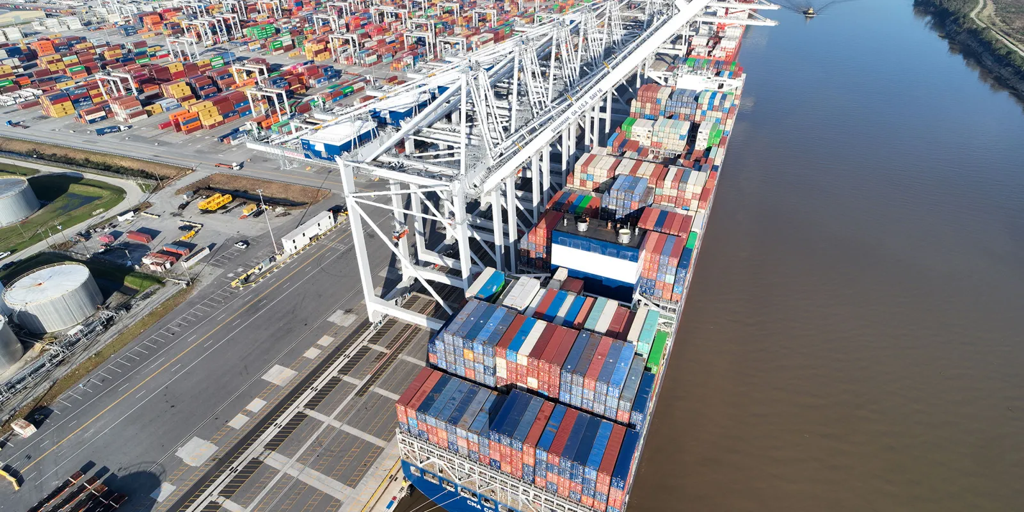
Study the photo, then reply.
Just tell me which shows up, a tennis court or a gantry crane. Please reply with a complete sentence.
The image shows a gantry crane.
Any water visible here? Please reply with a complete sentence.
Yes, water shows up in the scene.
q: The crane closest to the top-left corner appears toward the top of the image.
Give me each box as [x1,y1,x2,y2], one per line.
[94,70,146,106]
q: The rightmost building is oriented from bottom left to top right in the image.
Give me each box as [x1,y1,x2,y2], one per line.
[279,211,334,253]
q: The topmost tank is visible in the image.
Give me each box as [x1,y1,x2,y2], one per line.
[0,174,42,226]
